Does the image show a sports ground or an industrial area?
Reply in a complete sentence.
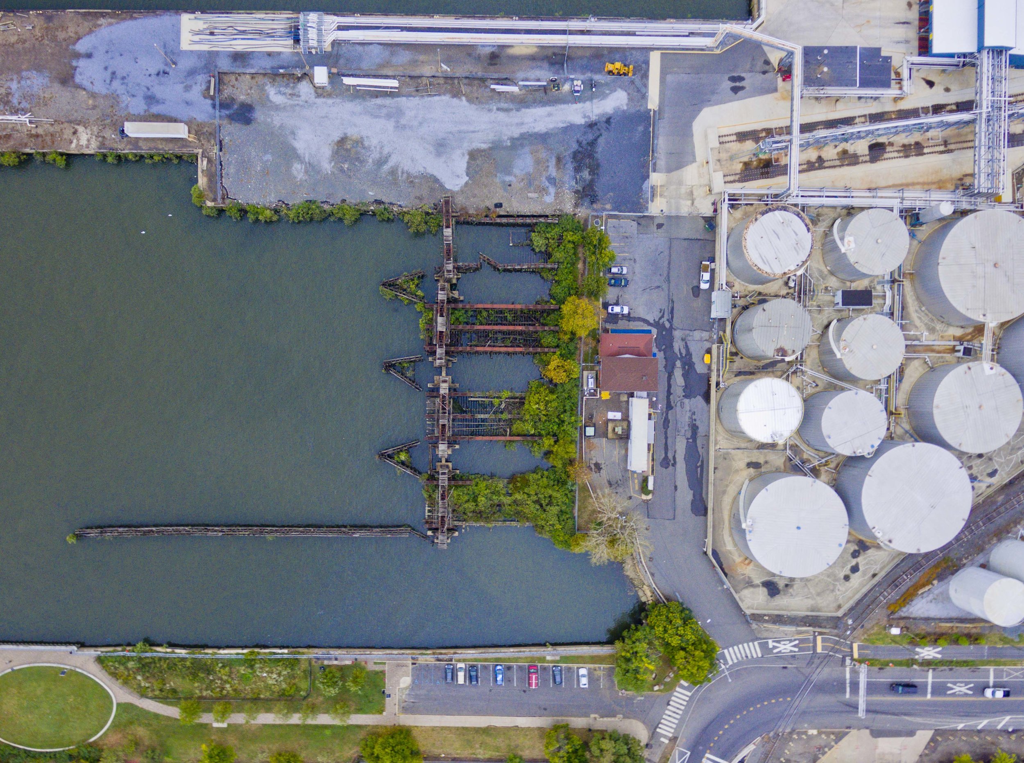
This looks like an industrial area.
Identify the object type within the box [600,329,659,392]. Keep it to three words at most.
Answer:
building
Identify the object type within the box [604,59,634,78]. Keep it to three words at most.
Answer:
work vehicle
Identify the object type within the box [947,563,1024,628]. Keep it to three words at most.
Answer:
silo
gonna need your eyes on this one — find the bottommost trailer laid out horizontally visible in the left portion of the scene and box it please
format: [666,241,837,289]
[125,122,191,139]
